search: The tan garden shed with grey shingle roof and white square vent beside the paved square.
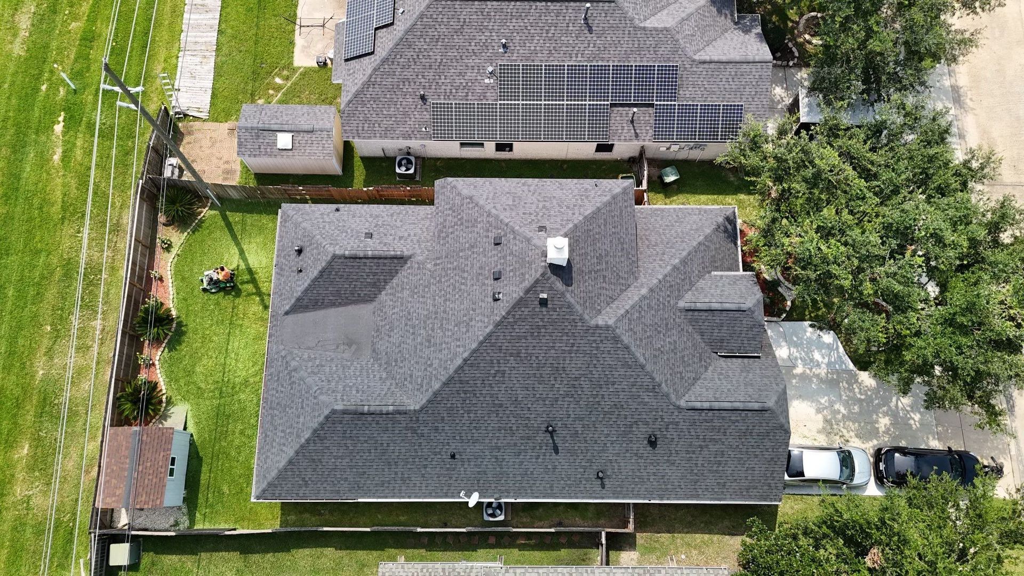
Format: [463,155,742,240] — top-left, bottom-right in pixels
[236,105,344,174]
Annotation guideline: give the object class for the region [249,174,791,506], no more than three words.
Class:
house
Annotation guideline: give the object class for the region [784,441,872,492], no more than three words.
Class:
car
